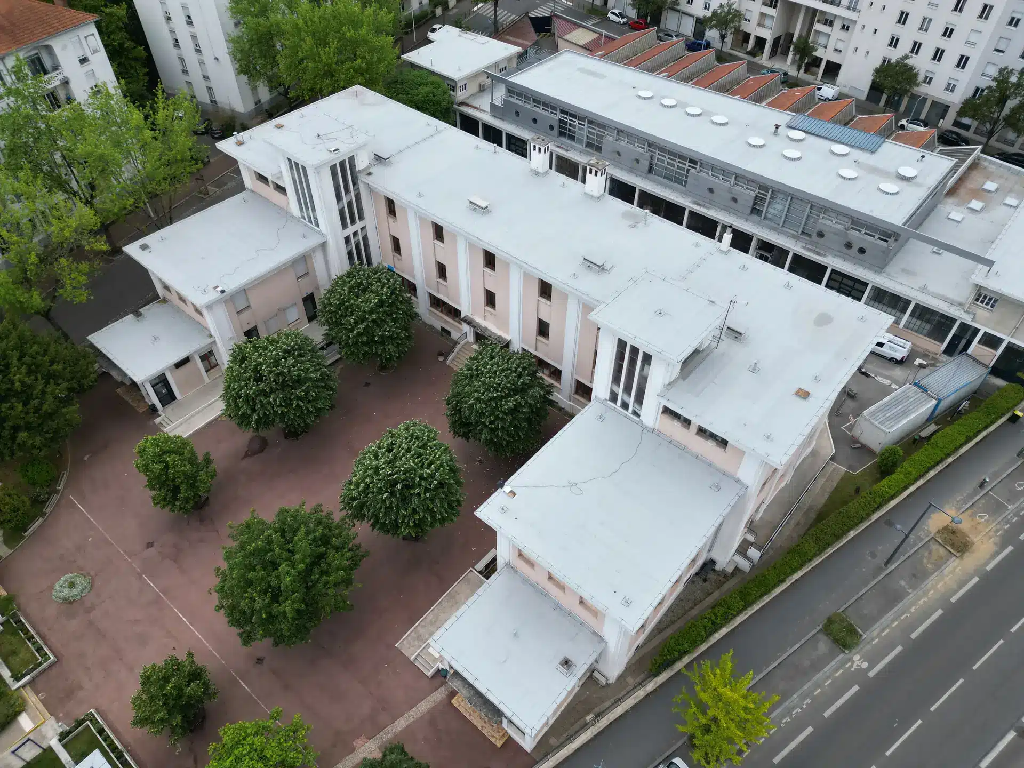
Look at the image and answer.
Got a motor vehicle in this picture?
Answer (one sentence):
Yes, you can see a motor vehicle in this photo.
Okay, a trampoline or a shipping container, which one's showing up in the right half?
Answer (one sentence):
Visible in the right half is a shipping container.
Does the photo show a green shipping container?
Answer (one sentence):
No, there appears to be no green shipping container in this shot.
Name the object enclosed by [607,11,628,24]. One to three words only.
vehicle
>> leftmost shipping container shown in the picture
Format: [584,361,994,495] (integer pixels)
[852,382,936,452]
